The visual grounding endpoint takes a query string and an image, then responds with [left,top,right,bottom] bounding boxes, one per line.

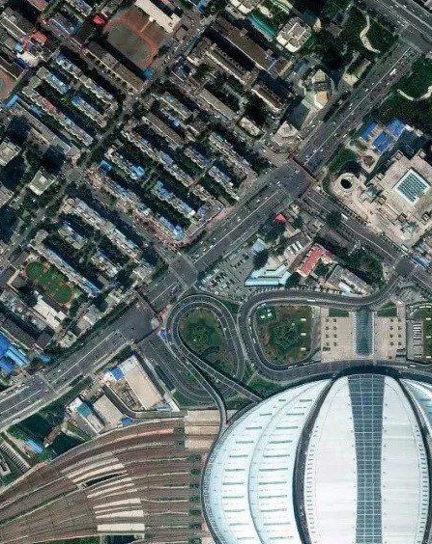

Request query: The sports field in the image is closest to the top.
[109,21,155,67]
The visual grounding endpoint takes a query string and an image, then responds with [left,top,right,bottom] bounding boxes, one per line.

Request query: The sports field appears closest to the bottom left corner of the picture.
[21,260,82,313]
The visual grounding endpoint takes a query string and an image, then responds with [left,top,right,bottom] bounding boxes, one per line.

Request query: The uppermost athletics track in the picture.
[105,18,158,70]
